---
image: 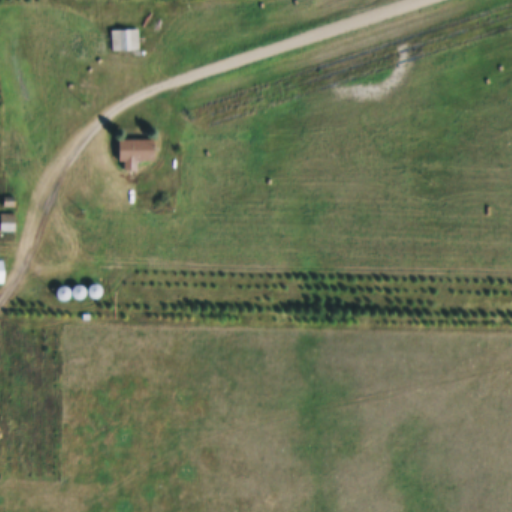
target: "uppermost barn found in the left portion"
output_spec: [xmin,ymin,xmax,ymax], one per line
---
[112,28,140,51]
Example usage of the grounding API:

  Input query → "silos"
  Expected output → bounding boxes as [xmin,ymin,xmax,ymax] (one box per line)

[56,286,72,302]
[88,284,104,300]
[72,285,88,301]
